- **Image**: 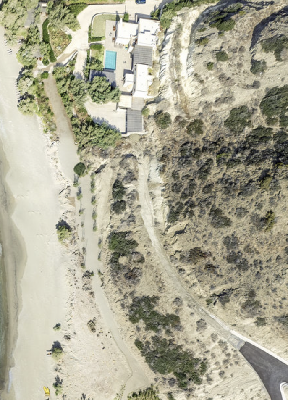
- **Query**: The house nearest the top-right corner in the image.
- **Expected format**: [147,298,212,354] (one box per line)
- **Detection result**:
[133,18,161,48]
